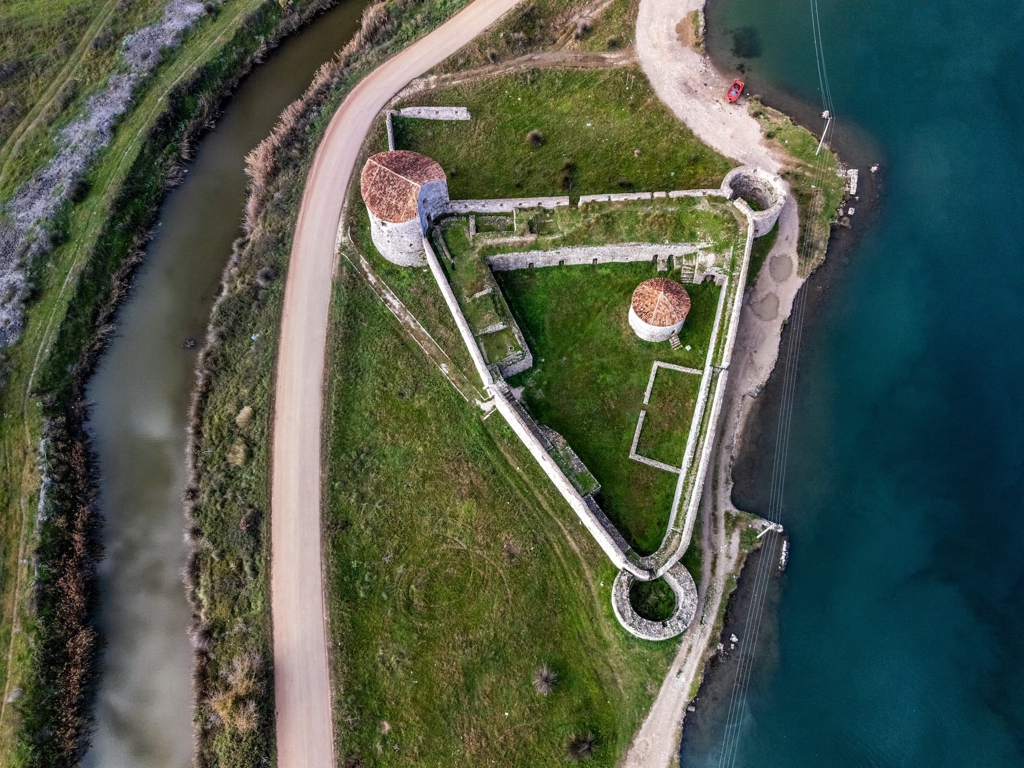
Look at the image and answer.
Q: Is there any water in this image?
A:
Yes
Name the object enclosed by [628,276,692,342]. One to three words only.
house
